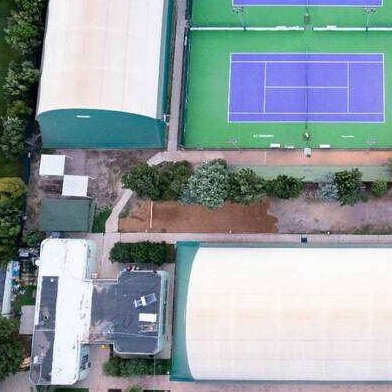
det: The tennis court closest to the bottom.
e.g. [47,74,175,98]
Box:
[182,28,392,147]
